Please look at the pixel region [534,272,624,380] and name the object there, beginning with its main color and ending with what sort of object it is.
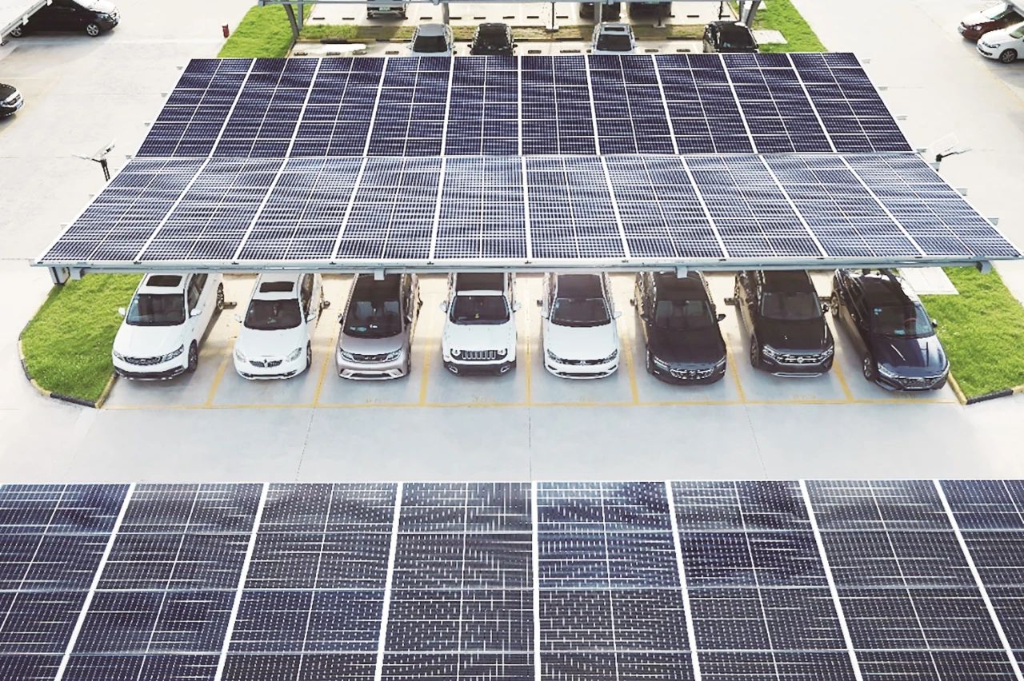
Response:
white car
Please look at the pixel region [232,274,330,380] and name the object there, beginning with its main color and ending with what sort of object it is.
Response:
white car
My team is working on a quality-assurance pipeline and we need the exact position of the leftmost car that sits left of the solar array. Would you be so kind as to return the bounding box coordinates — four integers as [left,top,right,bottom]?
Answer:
[0,75,28,113]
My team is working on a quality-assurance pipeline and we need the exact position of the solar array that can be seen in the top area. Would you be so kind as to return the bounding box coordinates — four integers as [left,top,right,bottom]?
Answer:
[172,54,870,87]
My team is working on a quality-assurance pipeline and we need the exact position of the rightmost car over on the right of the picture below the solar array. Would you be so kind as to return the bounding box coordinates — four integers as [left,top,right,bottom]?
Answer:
[817,270,944,391]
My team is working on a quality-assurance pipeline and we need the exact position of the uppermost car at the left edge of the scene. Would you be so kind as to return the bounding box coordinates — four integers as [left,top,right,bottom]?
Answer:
[22,0,124,34]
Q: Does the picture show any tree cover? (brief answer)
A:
No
